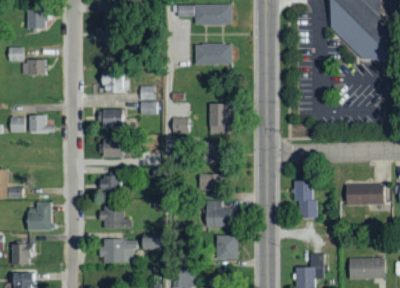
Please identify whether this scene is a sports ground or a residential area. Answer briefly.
residential area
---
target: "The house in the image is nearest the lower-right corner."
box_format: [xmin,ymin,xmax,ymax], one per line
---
[350,258,386,282]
